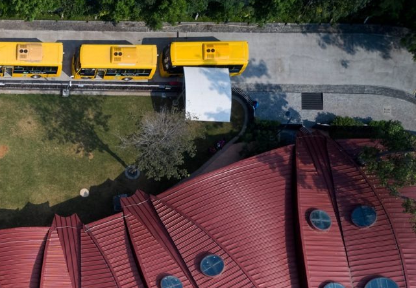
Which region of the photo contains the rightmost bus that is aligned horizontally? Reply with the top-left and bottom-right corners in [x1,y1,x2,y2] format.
[152,41,247,79]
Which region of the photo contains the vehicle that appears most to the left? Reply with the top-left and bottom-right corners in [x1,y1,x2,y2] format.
[0,41,63,79]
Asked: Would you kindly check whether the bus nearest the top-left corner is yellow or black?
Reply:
yellow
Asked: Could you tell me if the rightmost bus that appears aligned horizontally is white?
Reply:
No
